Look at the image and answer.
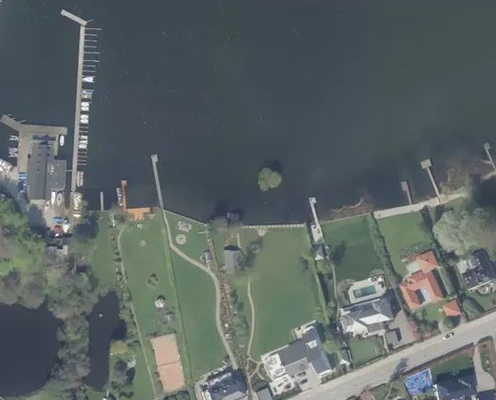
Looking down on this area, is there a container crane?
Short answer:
No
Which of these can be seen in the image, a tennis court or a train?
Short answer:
tennis court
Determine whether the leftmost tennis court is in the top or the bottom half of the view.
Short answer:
bottom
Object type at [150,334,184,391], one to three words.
tennis court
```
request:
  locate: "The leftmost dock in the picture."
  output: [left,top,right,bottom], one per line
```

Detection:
[0,114,67,174]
